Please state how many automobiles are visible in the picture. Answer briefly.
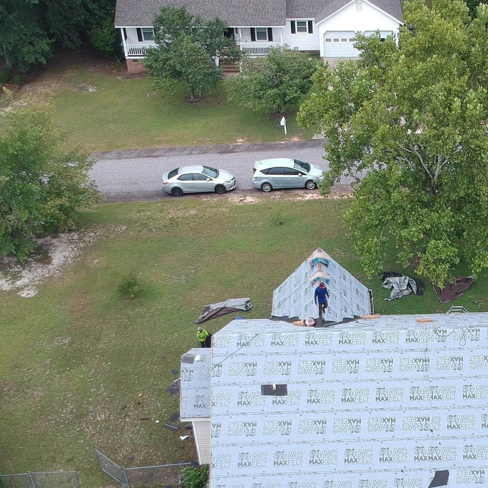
2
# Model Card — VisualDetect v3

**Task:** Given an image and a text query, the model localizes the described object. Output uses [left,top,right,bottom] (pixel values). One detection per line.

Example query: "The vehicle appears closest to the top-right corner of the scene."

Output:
[252,159,319,191]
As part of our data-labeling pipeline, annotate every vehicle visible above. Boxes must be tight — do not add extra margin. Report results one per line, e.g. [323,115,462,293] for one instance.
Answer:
[160,166,236,196]
[252,159,319,191]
